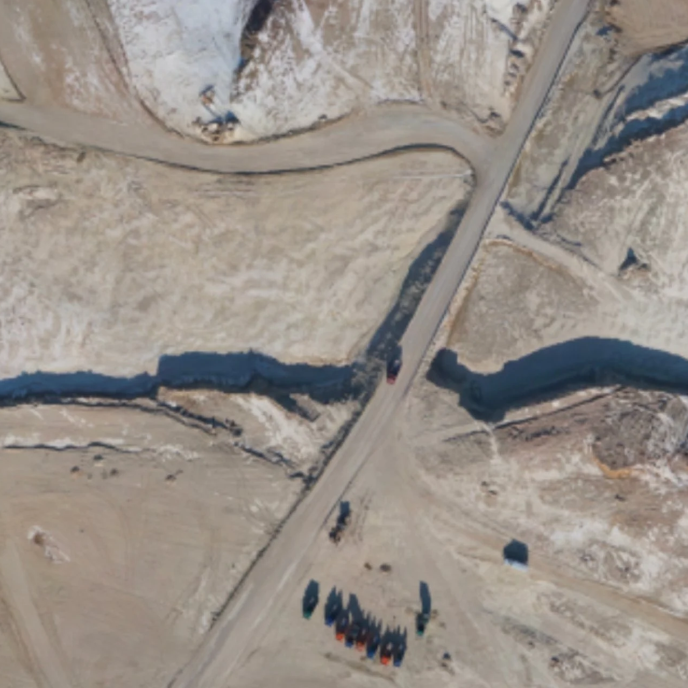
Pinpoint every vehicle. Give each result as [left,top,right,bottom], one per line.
[367,634,381,660]
[382,642,395,668]
[388,360,402,386]
[335,617,349,642]
[302,595,318,621]
[326,601,340,628]
[333,522,348,546]
[346,619,360,649]
[356,628,369,654]
[393,643,407,669]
